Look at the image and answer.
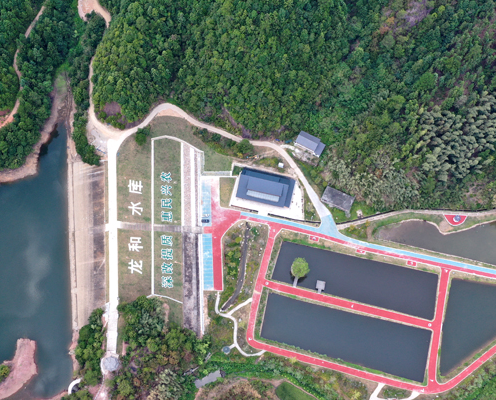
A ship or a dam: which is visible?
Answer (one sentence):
Of the two, only a dam appears.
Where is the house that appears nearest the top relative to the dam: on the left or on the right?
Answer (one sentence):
Relative to the dam, the house that appears nearest the top is on the right.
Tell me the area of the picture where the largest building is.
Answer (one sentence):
The largest building is in the center part of the image.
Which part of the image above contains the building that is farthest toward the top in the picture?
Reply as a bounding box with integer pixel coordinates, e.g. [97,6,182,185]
[297,130,326,156]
